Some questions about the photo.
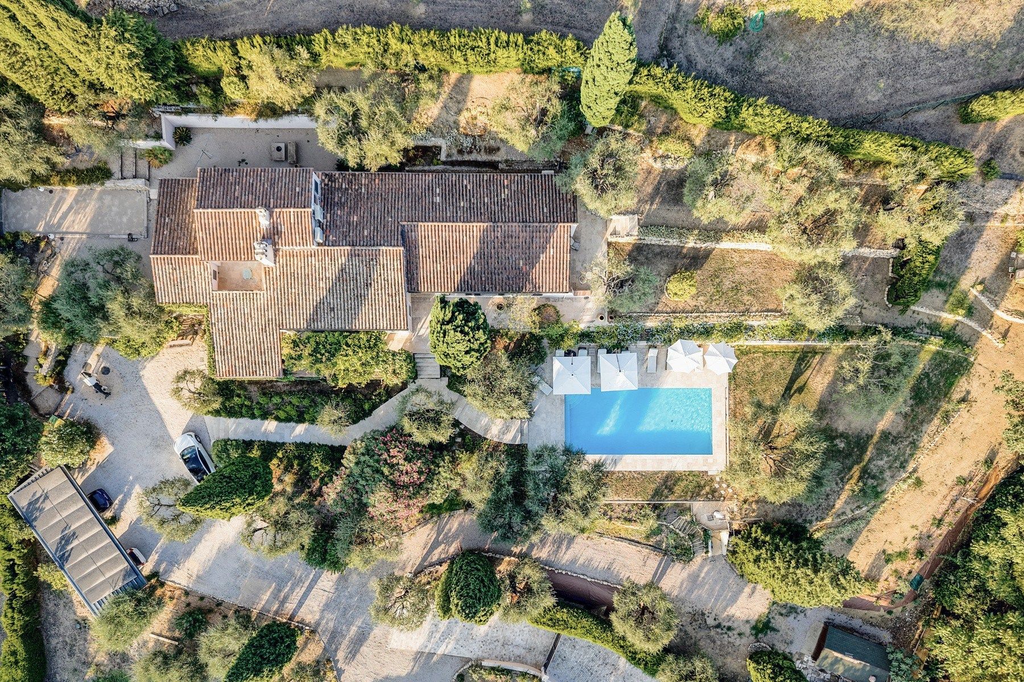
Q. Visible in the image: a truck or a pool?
pool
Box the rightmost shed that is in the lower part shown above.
[805,619,893,682]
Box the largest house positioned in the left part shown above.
[147,167,578,382]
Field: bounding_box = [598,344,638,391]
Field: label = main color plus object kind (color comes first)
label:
white umbrella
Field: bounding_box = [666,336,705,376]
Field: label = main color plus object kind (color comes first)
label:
white umbrella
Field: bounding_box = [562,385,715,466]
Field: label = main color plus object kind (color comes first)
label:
blue swimming pool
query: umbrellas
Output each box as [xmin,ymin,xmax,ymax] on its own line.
[598,344,638,391]
[704,340,738,374]
[666,336,705,376]
[553,347,591,394]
